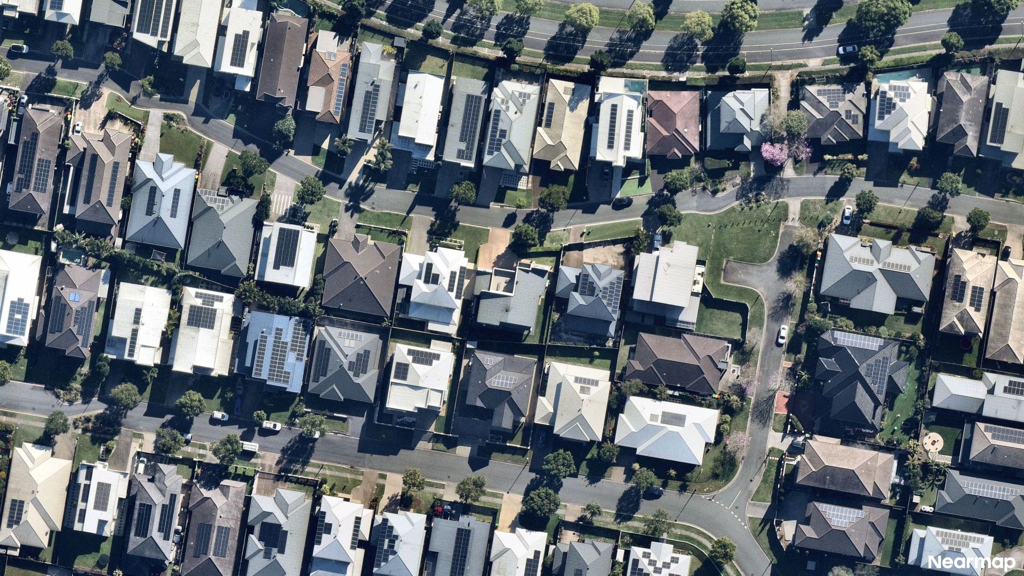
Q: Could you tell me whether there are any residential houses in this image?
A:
Yes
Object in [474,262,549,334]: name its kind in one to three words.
house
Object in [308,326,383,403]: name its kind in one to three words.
house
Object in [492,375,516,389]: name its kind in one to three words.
solar array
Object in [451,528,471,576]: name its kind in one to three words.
solar array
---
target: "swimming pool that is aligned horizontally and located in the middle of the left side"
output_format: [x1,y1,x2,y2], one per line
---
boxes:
[60,250,85,263]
